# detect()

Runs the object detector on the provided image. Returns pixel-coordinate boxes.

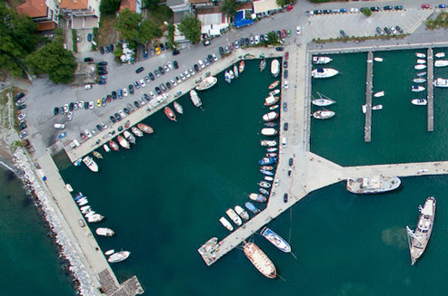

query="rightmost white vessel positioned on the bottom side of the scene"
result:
[406,197,437,267]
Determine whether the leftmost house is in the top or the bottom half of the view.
top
